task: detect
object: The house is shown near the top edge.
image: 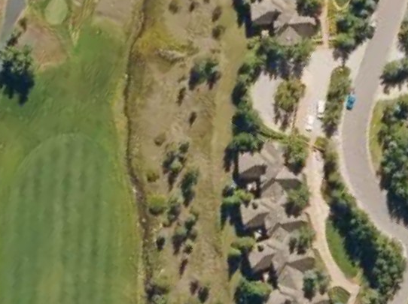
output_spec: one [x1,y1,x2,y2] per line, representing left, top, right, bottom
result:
[250,0,320,43]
